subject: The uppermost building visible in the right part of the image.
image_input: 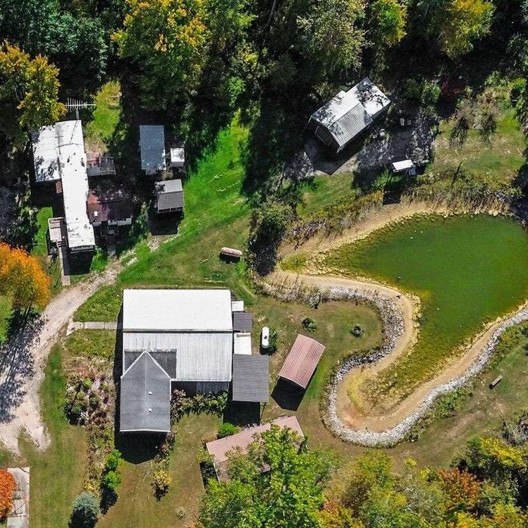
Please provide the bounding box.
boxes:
[310,69,391,153]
